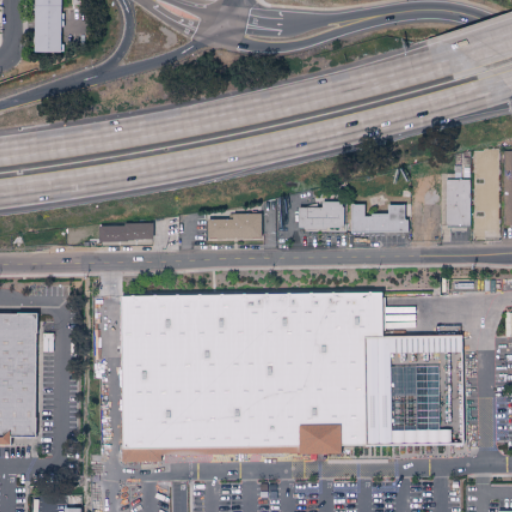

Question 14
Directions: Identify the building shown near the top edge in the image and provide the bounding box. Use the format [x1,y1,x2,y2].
[34,0,64,52]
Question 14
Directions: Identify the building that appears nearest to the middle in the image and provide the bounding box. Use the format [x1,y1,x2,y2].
[208,214,262,241]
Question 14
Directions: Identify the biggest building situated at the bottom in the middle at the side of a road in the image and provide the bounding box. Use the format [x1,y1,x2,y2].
[122,292,384,462]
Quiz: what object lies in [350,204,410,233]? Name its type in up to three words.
building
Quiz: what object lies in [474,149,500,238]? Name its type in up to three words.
building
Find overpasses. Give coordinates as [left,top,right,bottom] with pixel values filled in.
[426,10,512,113]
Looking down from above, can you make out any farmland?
No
